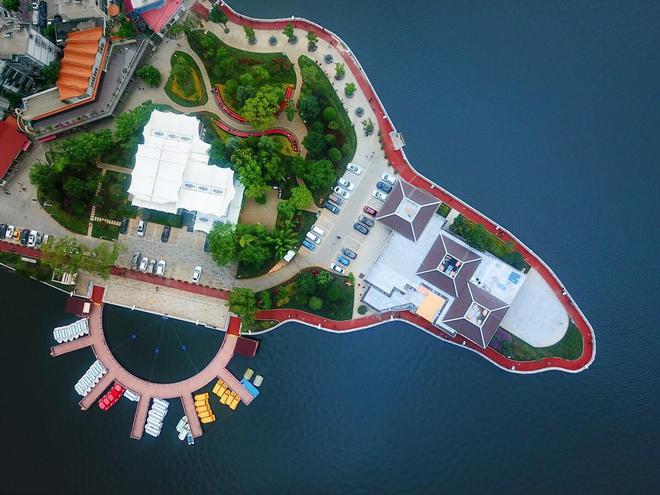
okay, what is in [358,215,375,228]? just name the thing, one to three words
vehicle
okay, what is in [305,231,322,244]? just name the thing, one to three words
vehicle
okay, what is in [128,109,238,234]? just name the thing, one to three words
tent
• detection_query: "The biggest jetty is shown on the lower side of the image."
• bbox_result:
[50,301,254,439]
